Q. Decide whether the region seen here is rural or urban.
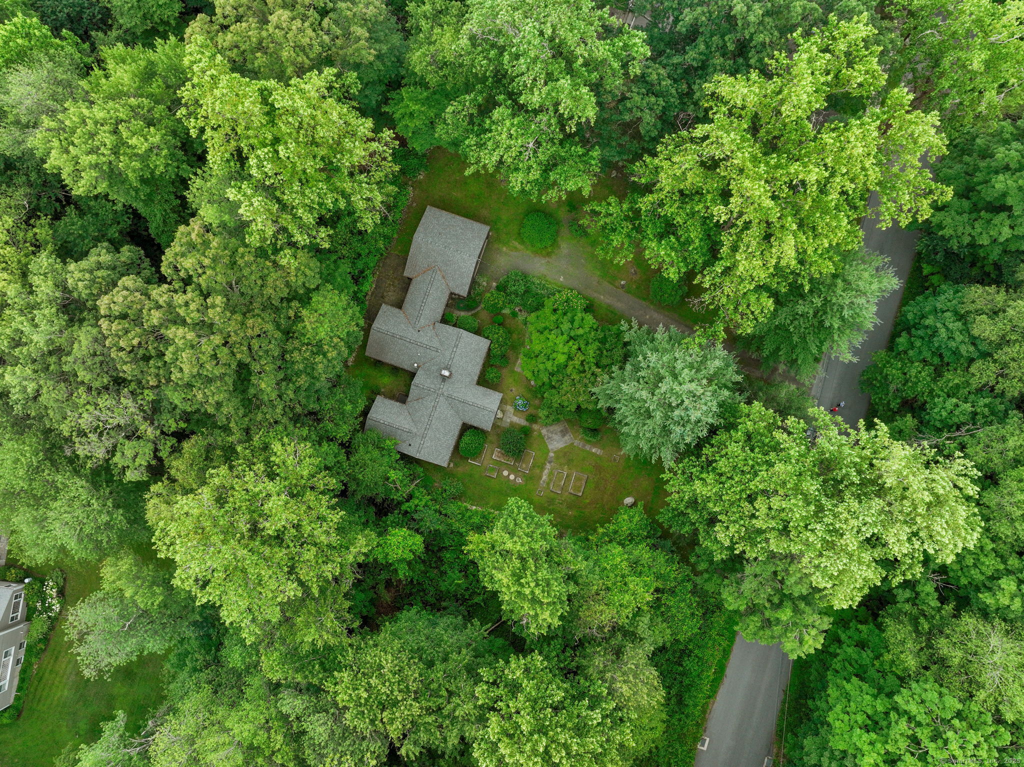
rural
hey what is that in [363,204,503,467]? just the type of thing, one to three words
house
